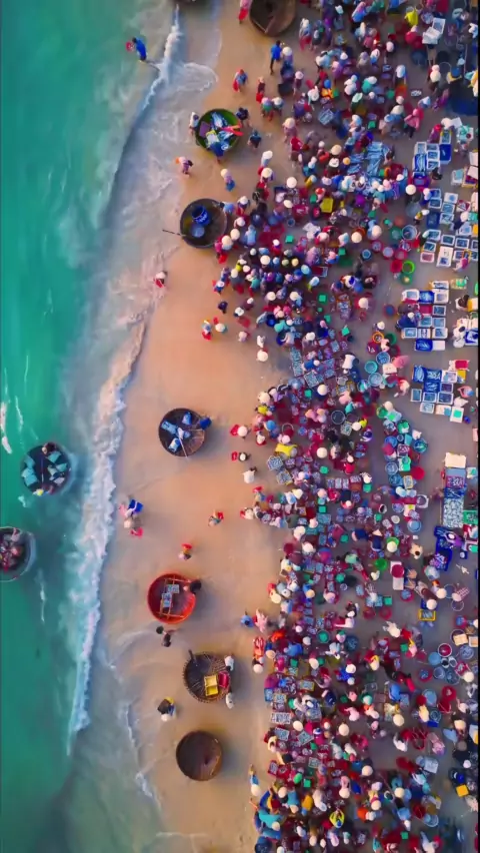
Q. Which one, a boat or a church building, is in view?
boat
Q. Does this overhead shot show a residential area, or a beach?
beach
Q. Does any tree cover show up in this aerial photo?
No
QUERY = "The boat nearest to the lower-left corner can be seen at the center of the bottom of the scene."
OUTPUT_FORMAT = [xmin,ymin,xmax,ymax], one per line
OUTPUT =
[174,731,223,781]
